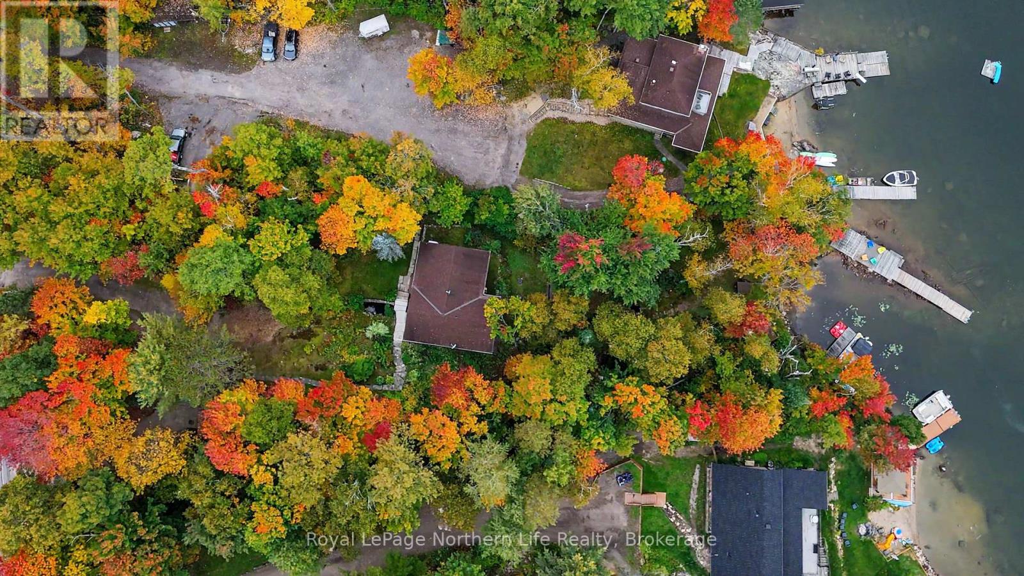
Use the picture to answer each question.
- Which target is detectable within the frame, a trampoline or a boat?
boat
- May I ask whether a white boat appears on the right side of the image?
Yes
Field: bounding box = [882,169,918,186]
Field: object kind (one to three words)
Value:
boat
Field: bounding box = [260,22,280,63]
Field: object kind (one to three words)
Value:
vehicle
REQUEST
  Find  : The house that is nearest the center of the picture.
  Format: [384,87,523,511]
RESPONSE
[403,241,502,354]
